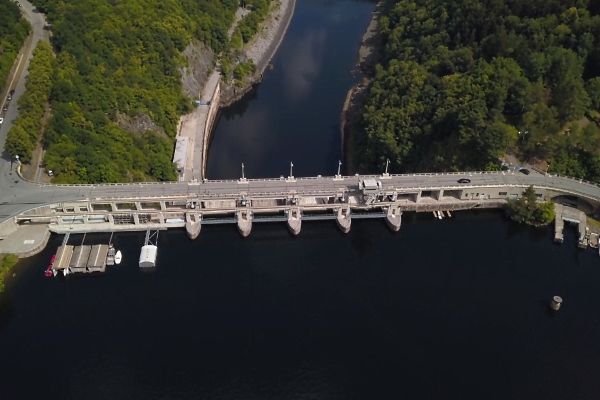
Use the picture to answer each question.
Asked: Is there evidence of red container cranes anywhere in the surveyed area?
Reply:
No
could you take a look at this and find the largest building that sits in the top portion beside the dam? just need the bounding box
[169,136,188,179]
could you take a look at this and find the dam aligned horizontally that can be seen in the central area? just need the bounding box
[16,173,600,239]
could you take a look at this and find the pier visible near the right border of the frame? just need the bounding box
[551,206,589,250]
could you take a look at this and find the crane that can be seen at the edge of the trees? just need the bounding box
[357,180,383,205]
